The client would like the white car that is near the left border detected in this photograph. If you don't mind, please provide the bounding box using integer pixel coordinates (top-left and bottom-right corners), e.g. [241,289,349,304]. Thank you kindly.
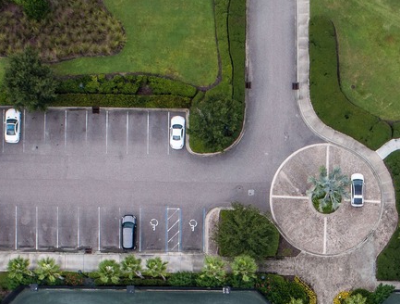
[3,110,22,144]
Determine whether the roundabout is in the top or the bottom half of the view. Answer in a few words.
bottom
